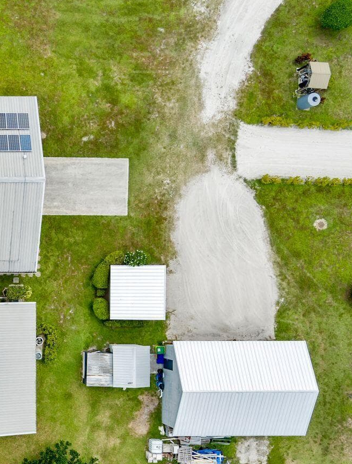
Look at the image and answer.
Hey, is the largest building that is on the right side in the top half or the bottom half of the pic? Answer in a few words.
bottom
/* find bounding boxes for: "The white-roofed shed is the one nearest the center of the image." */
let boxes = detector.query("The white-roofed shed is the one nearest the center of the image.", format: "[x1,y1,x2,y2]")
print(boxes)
[104,265,167,320]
